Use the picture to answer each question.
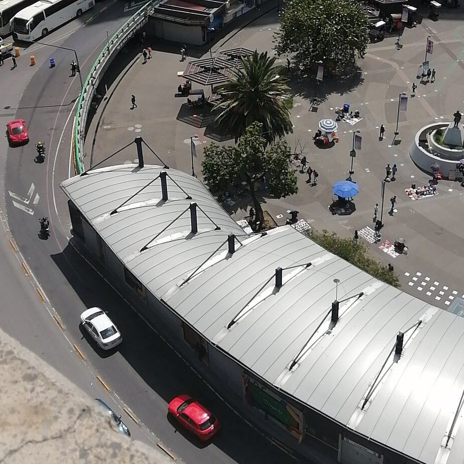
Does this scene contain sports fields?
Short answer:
No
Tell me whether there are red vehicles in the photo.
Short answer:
Yes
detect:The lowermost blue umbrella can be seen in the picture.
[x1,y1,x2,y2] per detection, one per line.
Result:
[328,179,362,201]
